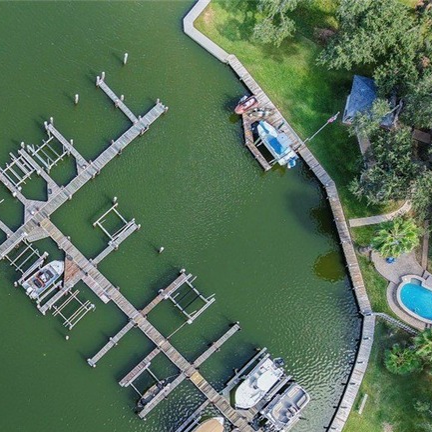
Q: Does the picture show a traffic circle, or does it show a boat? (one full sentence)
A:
It is a boat that can be seen here.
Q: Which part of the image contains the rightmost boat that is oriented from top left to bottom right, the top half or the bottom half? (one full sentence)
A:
The rightmost boat that is oriented from top left to bottom right is in the top half of the image.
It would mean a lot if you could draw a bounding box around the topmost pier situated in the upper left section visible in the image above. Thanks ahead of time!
[95,71,140,124]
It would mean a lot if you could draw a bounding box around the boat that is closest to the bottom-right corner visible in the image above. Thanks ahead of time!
[257,385,309,431]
